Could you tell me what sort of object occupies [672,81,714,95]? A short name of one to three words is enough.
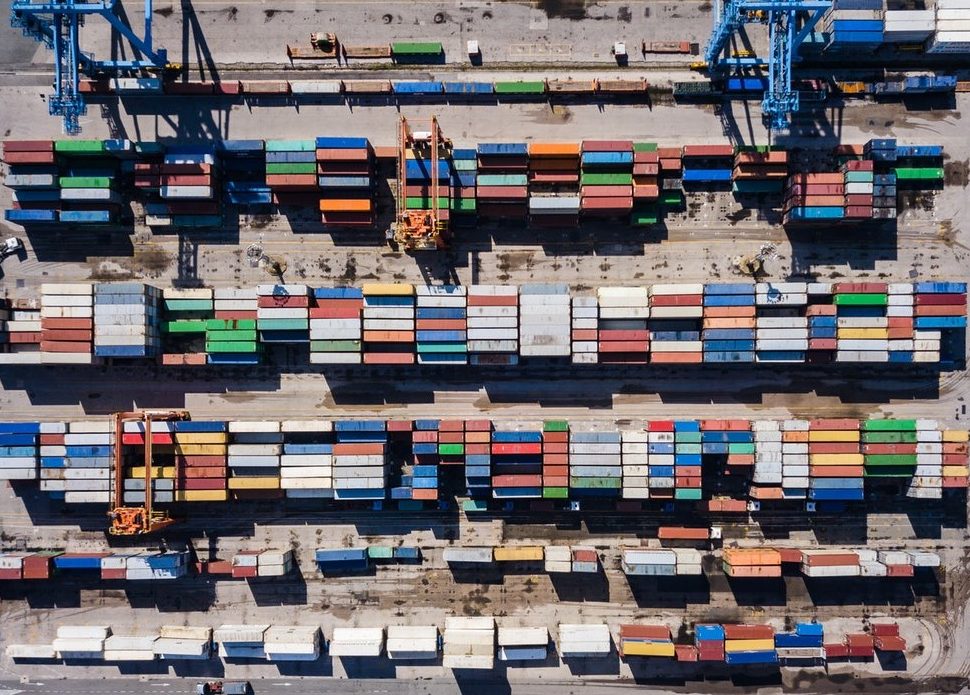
rail car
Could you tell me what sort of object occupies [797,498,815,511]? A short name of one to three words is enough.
vehicle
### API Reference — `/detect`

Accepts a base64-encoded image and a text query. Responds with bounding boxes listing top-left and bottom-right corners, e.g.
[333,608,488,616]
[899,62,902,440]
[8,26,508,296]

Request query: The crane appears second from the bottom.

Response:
[385,116,458,255]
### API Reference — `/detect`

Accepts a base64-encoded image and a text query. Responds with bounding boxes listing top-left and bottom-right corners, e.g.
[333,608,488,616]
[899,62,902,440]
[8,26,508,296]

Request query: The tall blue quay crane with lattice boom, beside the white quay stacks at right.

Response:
[690,0,835,138]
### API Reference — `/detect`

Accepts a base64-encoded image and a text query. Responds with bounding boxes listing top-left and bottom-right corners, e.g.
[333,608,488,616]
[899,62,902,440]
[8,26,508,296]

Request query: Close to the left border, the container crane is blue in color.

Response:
[0,0,180,138]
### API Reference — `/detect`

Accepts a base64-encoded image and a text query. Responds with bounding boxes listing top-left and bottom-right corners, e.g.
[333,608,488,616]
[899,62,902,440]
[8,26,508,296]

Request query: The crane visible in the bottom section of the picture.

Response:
[101,409,190,544]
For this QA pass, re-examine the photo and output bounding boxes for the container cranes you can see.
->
[385,116,458,255]
[0,0,180,138]
[101,409,190,544]
[690,0,835,138]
